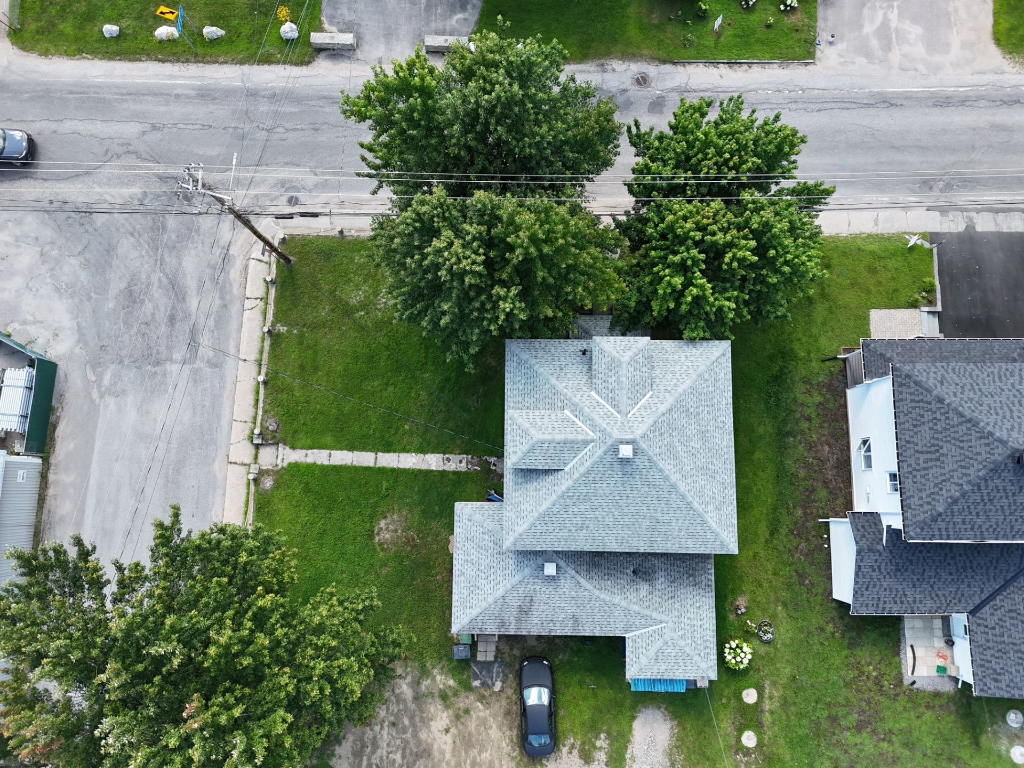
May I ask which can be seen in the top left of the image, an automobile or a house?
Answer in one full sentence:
The feature located in the top left of the image is an automobile.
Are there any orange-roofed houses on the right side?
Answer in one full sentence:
No, no orange-roofed house is visible on the right side.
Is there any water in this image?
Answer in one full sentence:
No, there is no water in the image.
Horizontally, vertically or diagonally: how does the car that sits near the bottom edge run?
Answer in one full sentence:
From this overhead view, the car that sits near the bottom edge appears to run vertically.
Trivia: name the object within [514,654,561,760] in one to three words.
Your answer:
car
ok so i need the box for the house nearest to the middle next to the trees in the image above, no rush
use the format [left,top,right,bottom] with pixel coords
[451,301,738,692]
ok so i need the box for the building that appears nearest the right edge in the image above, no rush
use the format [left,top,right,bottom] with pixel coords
[810,333,1024,700]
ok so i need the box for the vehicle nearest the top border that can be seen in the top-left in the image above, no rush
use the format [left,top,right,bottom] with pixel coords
[0,122,40,170]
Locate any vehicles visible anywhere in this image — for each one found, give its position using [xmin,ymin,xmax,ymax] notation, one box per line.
[0,122,40,170]
[514,654,561,760]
